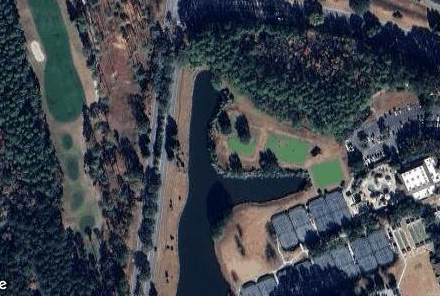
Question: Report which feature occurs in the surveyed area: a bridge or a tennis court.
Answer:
tennis court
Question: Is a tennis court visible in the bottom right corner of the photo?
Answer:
Yes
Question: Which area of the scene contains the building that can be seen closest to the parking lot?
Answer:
right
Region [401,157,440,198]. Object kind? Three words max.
building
